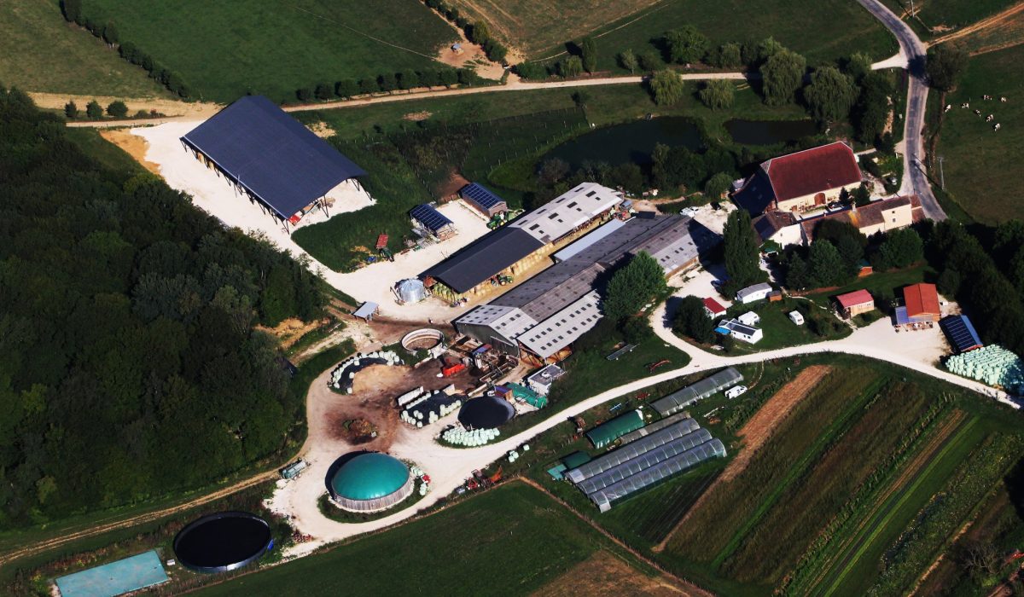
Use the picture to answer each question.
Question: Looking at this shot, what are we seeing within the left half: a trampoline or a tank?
tank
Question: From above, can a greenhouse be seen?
Yes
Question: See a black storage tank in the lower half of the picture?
Yes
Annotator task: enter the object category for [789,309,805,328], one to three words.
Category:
camper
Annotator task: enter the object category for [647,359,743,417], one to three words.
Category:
greenhouse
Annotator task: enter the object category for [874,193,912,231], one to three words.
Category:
house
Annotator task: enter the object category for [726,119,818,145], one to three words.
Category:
pond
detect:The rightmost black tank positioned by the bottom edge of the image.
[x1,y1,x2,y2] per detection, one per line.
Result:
[173,509,273,575]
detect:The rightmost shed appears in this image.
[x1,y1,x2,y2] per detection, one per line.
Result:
[938,315,983,355]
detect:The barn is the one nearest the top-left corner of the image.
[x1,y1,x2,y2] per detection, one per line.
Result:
[184,94,369,232]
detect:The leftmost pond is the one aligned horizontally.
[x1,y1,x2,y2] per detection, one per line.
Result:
[538,115,703,169]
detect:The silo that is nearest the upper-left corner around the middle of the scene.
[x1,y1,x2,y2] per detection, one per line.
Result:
[390,280,424,304]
